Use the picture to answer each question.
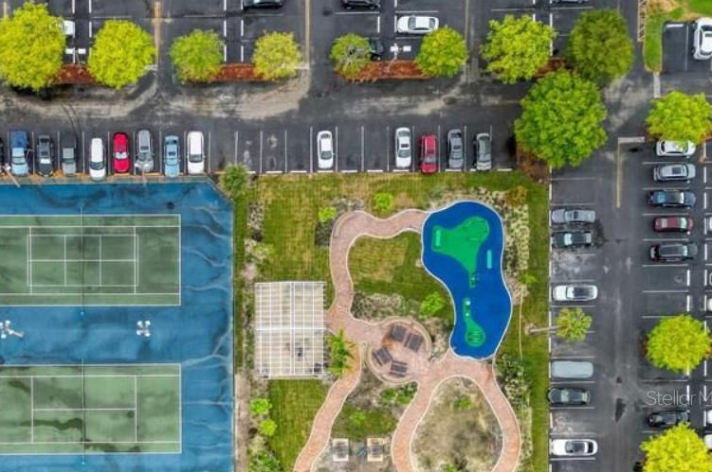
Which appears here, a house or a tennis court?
tennis court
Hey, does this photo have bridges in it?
No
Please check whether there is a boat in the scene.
No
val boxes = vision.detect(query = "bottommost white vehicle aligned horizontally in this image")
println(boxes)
[552,439,594,457]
